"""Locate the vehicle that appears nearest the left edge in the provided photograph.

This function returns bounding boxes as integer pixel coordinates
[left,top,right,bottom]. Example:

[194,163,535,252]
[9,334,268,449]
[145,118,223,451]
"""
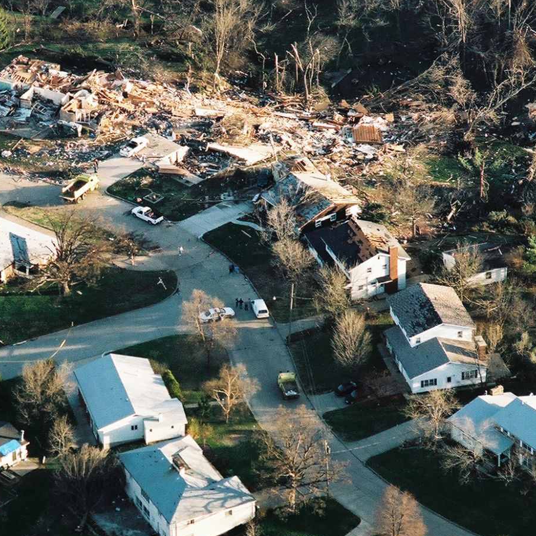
[59,171,101,203]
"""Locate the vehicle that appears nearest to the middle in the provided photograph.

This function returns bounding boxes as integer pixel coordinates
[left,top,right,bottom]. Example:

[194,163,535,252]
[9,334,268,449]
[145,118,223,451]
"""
[251,297,271,321]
